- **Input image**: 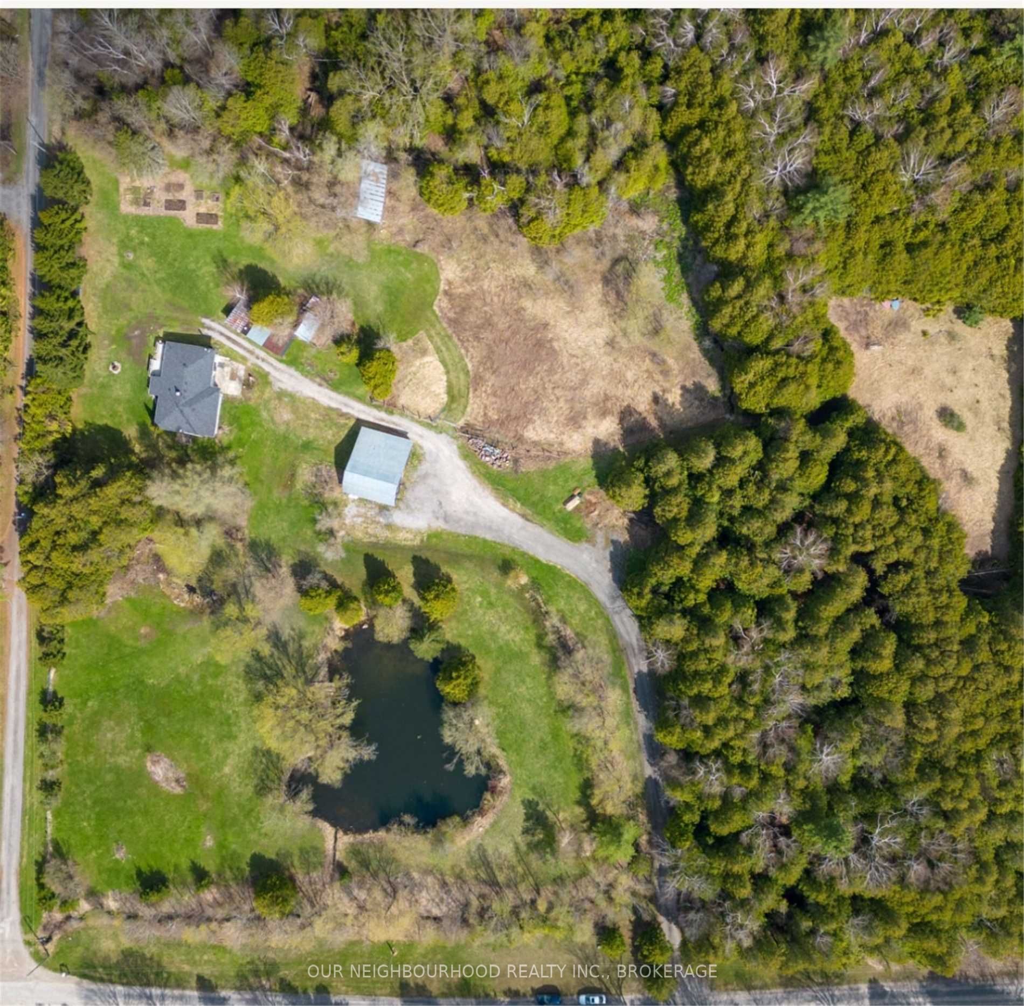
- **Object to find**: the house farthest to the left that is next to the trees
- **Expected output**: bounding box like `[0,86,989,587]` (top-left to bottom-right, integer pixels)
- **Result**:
[149,341,223,438]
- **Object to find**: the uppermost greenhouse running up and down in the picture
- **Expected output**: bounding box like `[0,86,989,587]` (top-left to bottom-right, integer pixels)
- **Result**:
[358,162,388,225]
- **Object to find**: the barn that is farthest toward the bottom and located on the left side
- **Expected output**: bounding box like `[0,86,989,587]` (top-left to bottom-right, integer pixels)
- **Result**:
[342,426,413,506]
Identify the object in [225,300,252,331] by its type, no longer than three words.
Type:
shed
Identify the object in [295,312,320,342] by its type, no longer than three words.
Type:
shed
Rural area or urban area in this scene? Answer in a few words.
rural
